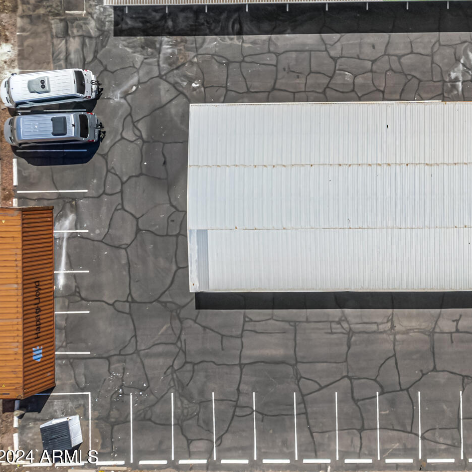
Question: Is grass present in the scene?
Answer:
No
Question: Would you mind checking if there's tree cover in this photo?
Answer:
No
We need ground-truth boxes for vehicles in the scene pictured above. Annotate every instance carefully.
[1,70,103,112]
[4,110,106,150]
